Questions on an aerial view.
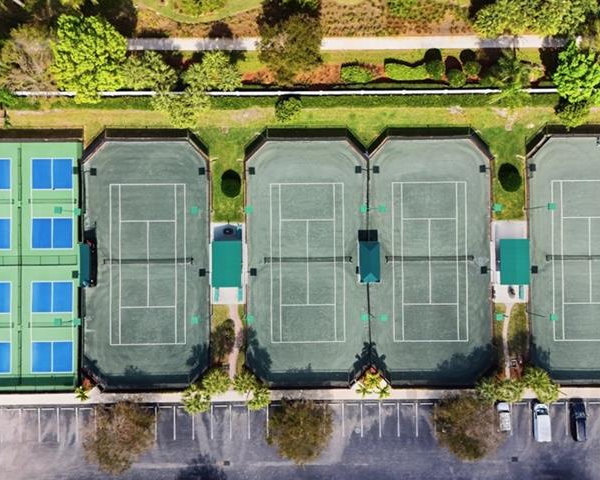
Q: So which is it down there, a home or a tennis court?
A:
tennis court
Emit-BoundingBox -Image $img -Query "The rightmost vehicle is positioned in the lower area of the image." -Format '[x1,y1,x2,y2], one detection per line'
[569,400,587,439]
